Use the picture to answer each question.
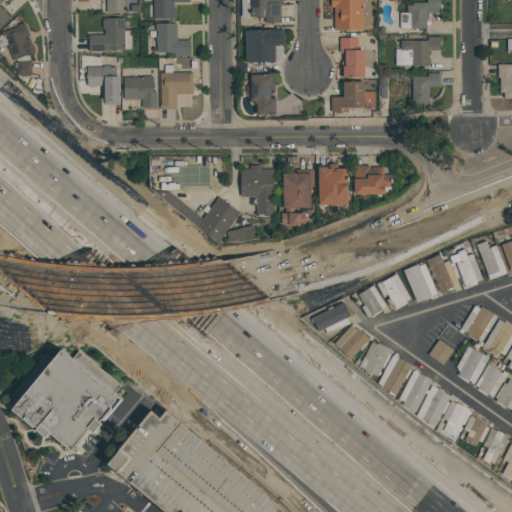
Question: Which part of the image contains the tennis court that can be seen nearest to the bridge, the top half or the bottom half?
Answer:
top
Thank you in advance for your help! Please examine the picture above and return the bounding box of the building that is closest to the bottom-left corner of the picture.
[10,350,123,451]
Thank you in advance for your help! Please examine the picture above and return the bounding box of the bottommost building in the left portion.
[106,410,288,512]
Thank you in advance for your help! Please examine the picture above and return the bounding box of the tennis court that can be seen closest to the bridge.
[170,164,210,186]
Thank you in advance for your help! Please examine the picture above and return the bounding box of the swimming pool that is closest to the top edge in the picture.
[381,3,394,24]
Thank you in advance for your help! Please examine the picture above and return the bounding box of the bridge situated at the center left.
[0,239,269,338]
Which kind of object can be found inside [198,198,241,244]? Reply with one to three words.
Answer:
building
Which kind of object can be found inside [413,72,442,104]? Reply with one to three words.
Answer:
house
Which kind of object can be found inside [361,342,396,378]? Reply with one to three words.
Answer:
house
